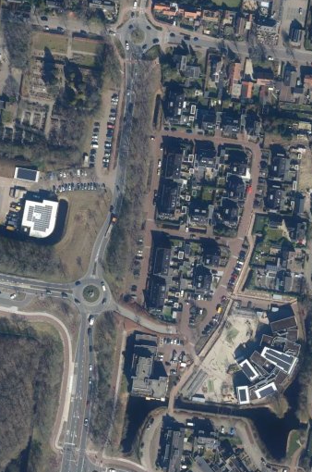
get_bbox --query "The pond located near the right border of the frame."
[251,406,306,463]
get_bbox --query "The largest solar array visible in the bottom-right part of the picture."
[263,349,294,370]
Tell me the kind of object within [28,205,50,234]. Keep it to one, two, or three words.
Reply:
solar array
